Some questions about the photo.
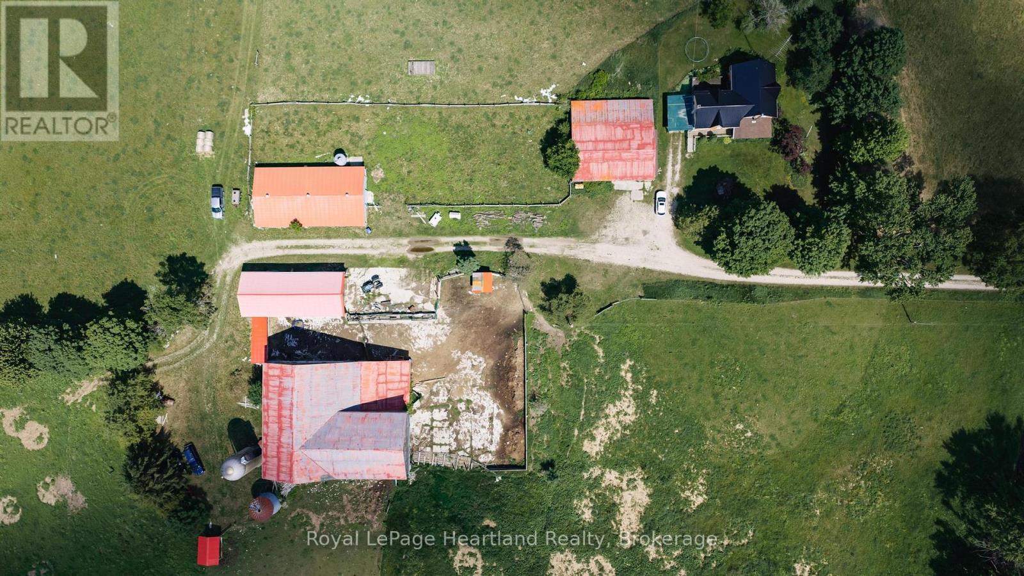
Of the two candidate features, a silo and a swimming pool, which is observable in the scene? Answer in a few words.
silo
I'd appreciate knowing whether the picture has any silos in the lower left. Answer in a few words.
Yes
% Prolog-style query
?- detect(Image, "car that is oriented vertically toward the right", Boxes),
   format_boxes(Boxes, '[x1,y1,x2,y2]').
[654,190,667,216]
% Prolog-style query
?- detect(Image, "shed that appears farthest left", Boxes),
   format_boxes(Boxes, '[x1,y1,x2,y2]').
[197,531,224,566]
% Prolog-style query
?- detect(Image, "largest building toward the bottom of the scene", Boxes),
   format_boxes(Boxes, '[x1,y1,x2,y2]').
[262,360,411,486]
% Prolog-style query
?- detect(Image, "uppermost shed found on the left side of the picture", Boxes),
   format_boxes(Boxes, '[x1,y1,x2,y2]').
[248,166,367,227]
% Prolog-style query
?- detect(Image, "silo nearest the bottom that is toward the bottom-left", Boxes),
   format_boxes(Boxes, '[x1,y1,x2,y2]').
[247,489,281,521]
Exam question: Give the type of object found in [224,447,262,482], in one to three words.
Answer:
silo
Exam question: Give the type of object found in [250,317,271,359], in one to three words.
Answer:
shed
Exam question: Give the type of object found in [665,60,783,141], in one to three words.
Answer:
house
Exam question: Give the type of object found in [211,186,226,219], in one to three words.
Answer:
vehicle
